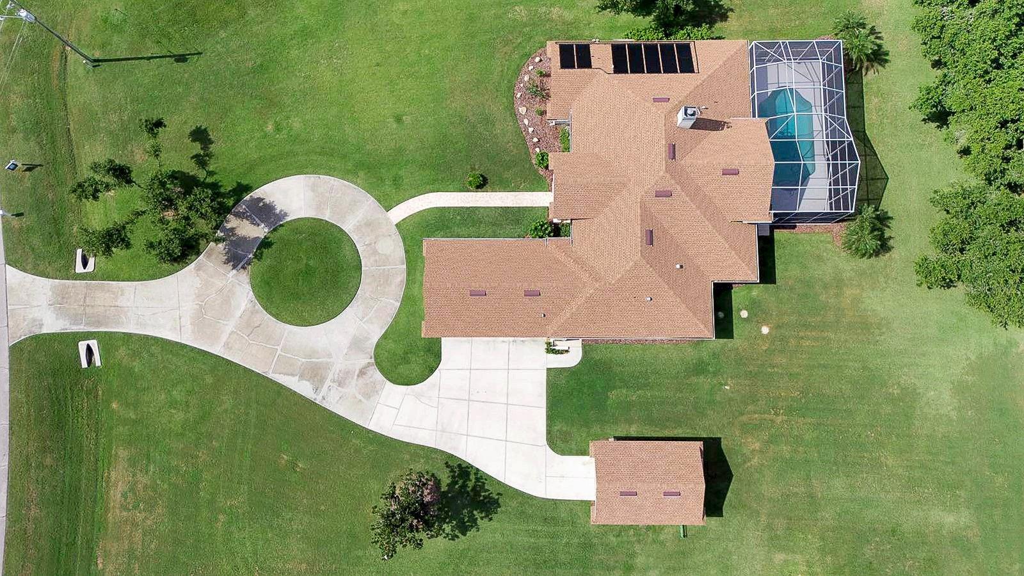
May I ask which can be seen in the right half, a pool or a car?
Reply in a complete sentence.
The one visible in the right half is a pool.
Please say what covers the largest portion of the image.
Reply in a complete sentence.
Most of the picture is covered by grass.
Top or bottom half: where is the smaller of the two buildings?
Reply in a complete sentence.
The bottom half of the photo is where the smaller of the two buildings is.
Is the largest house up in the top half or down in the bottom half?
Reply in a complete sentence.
You can find the largest house in the top half.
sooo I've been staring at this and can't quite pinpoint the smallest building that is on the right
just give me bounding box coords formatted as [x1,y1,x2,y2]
[589,437,708,524]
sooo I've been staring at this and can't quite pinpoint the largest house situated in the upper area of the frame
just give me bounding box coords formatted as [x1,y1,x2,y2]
[421,39,776,341]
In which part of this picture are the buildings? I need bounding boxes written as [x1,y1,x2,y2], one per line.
[589,437,708,524]
[421,39,776,341]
